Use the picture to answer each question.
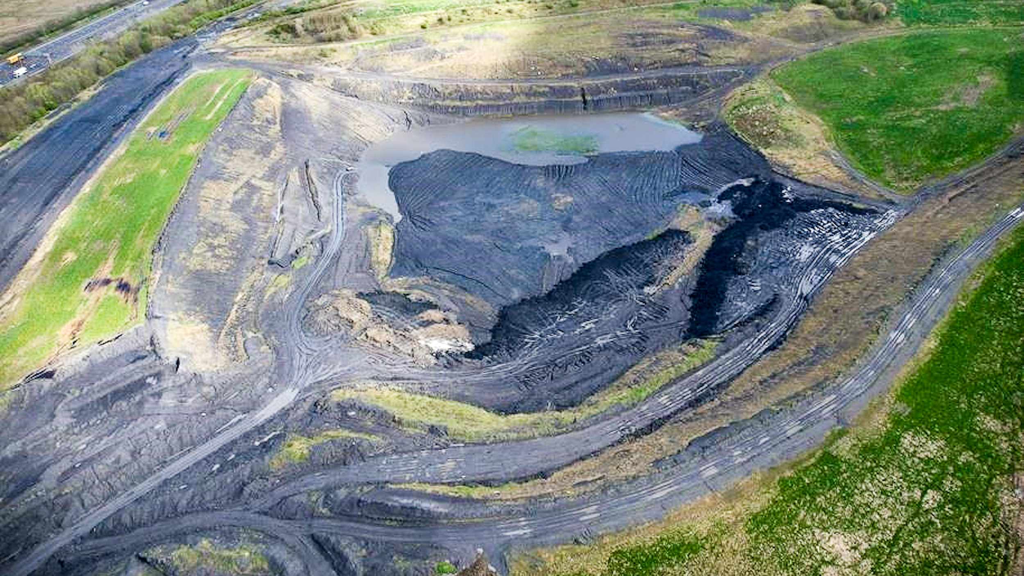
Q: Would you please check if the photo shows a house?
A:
No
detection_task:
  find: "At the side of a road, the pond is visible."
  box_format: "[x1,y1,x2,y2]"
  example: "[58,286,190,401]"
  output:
[356,113,701,223]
